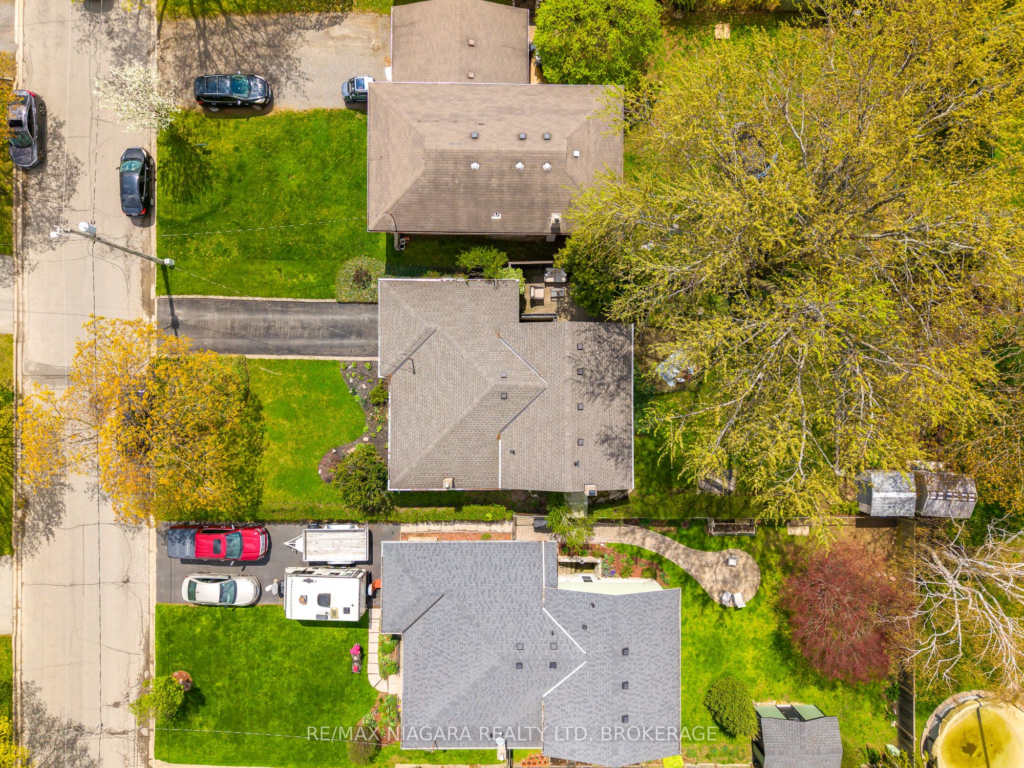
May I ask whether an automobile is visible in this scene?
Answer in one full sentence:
Yes, an automobile can be made out from above.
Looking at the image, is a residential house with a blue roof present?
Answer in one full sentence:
No, there is no residential house with a blue roof in the image.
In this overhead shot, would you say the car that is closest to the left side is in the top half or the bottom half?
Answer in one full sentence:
The car that is closest to the left side is in the top half of the image.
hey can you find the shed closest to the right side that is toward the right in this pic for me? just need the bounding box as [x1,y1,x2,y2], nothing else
[915,471,980,516]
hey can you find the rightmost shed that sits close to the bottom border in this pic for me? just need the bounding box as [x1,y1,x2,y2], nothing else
[751,703,845,768]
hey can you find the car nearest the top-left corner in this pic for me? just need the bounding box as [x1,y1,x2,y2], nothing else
[4,90,50,173]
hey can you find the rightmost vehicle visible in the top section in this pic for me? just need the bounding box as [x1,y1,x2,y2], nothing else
[340,71,390,111]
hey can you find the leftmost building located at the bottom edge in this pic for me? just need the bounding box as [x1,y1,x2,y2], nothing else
[379,538,684,764]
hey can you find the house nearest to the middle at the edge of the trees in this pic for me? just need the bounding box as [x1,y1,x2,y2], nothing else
[376,277,636,496]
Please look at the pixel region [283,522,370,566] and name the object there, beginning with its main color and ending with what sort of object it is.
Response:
white trailer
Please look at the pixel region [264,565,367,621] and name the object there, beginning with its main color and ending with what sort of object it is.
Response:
white trailer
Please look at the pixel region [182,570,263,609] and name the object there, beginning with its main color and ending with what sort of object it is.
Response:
white car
